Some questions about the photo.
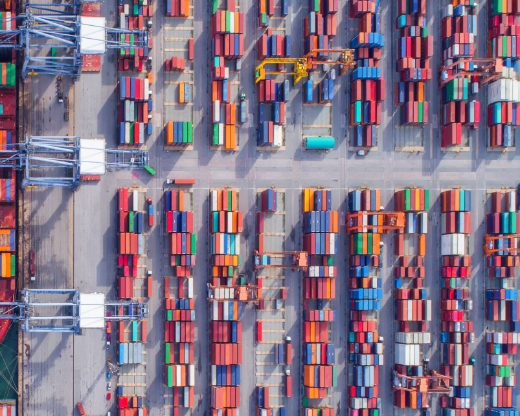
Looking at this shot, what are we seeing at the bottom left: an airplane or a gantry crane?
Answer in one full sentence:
You can see a gantry crane at the bottom left.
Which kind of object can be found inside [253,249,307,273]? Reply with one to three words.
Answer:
crane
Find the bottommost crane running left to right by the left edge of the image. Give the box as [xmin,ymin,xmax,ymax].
[0,285,149,336]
